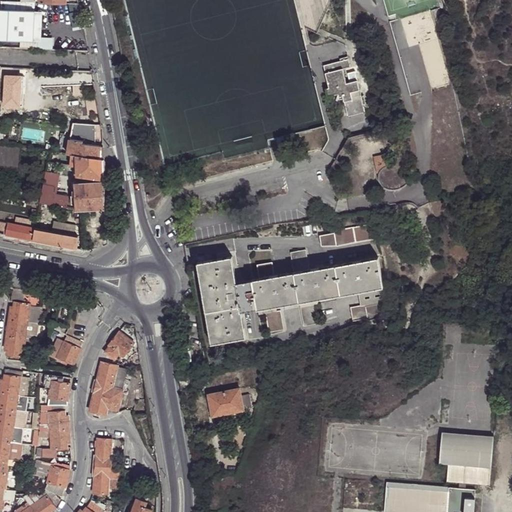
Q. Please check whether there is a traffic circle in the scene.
Yes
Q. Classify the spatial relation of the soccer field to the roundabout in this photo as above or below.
above it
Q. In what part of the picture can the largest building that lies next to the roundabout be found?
center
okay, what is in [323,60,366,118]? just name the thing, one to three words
building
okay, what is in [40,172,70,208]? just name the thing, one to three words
house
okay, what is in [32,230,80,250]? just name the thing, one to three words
house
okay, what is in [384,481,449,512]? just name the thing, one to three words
building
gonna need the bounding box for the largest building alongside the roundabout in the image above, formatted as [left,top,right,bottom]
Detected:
[196,259,383,346]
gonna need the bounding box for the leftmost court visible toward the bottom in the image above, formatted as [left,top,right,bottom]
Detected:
[316,412,428,484]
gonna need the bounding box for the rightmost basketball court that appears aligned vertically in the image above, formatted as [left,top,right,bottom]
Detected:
[452,348,492,426]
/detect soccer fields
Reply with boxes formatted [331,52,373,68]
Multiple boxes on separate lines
[126,0,324,158]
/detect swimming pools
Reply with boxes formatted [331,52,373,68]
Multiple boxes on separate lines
[20,127,48,144]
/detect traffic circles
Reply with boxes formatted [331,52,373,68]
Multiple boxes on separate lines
[119,256,182,319]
